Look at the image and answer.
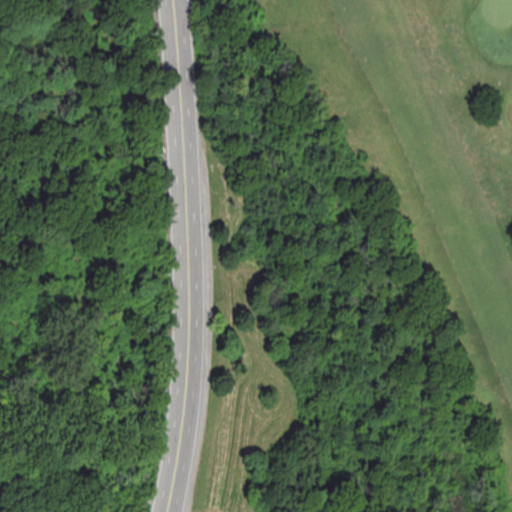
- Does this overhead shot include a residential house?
No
